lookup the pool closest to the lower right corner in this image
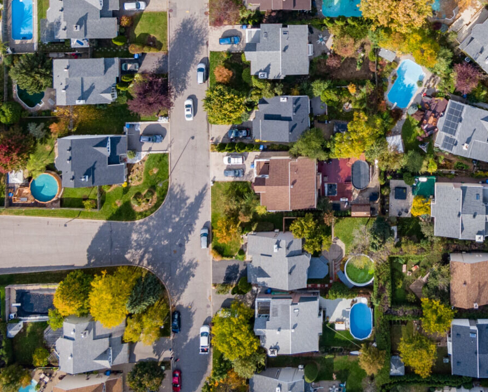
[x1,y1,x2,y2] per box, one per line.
[348,300,374,342]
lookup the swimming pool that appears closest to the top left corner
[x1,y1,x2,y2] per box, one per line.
[9,0,35,41]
